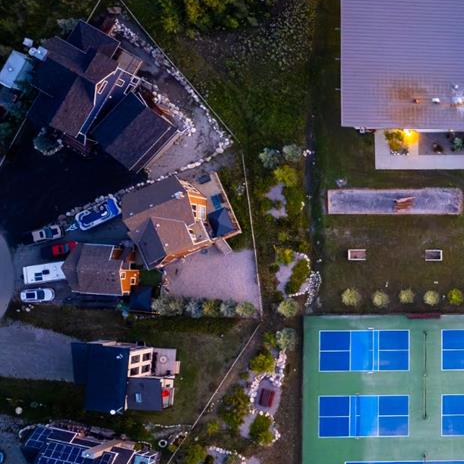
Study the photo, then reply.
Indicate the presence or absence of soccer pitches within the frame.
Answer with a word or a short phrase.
No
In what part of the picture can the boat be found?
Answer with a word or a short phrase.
left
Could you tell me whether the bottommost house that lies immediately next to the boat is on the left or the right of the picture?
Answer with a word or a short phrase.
left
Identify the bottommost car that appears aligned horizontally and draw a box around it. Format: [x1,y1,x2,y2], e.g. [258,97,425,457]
[22,286,59,302]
